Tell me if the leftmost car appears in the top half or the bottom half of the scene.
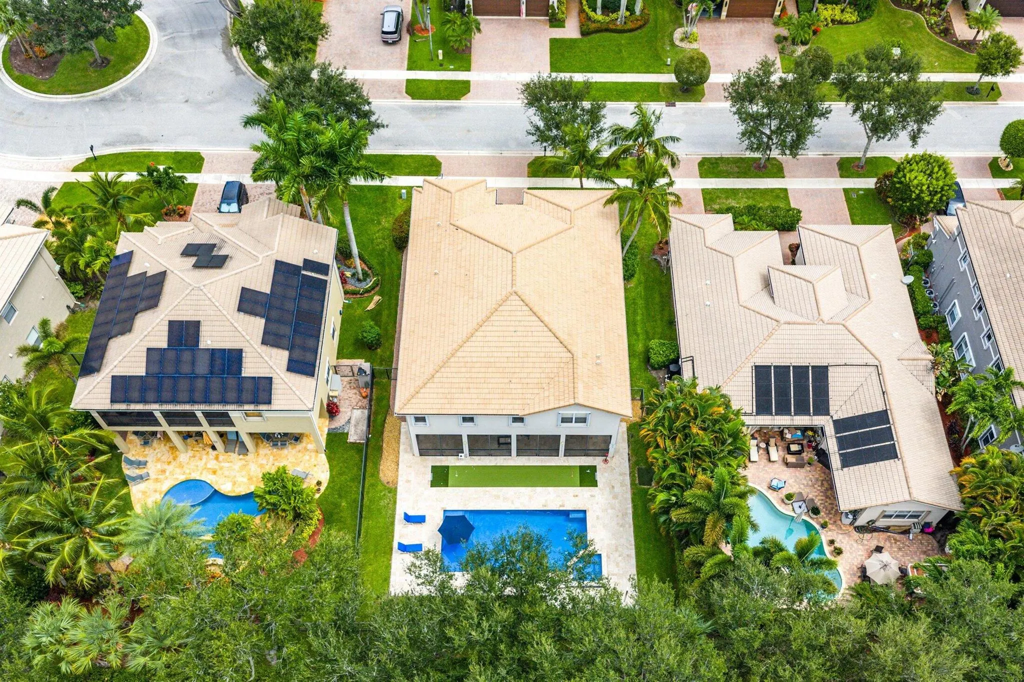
top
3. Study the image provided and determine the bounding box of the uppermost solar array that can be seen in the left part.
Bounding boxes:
[182,243,229,266]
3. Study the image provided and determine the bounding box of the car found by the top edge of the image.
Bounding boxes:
[381,4,404,39]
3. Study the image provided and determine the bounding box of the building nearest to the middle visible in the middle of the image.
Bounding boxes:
[394,177,634,458]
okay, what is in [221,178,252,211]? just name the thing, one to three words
car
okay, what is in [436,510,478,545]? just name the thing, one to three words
umbrella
